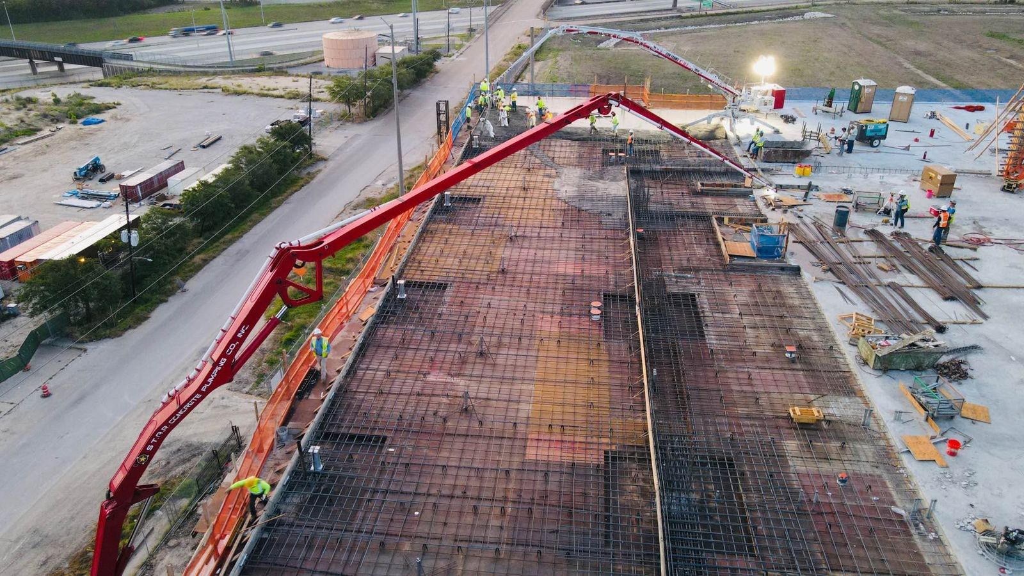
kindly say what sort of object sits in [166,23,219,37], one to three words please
vehicle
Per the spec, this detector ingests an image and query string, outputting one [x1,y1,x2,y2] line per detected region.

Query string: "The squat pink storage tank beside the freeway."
[323,28,376,68]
